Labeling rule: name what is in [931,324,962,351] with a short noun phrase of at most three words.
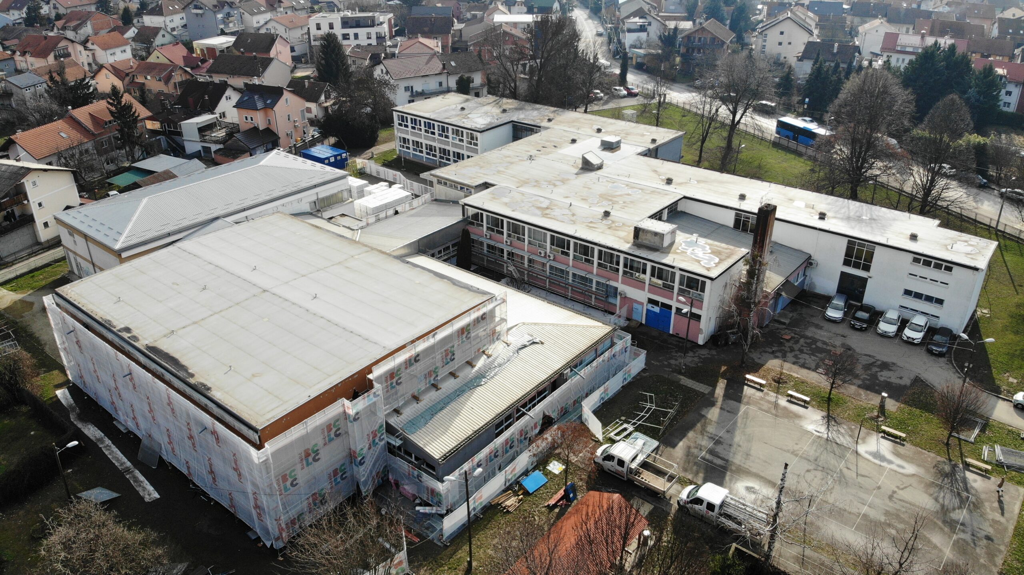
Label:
car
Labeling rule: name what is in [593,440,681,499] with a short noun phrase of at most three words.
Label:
truck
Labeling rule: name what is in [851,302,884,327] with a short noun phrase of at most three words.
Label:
car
